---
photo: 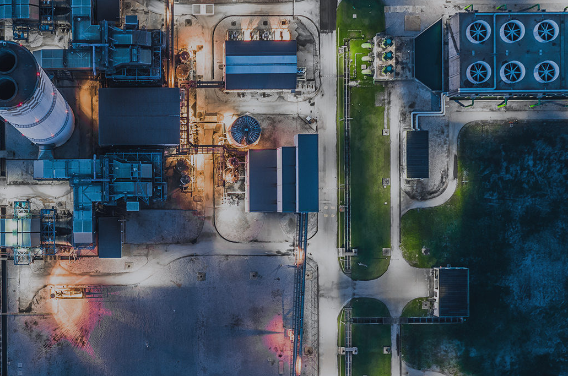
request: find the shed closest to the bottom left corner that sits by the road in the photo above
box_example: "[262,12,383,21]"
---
[98,218,125,260]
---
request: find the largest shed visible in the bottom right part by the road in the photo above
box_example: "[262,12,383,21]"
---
[423,267,471,317]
